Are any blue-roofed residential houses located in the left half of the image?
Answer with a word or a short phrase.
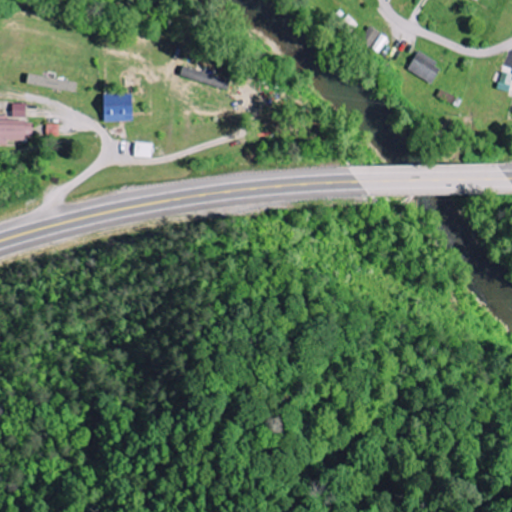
Yes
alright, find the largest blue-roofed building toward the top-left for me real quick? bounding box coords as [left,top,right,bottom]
[104,94,133,126]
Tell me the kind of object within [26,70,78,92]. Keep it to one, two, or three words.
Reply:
house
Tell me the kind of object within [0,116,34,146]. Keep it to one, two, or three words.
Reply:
building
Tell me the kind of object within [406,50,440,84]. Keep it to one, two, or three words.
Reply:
house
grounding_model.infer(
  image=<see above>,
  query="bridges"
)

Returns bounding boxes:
[354,164,512,196]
